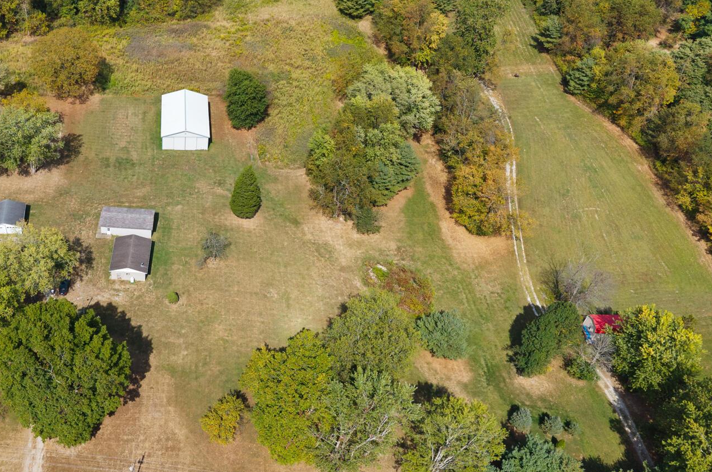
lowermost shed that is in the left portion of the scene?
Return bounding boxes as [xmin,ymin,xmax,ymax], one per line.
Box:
[109,232,153,280]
